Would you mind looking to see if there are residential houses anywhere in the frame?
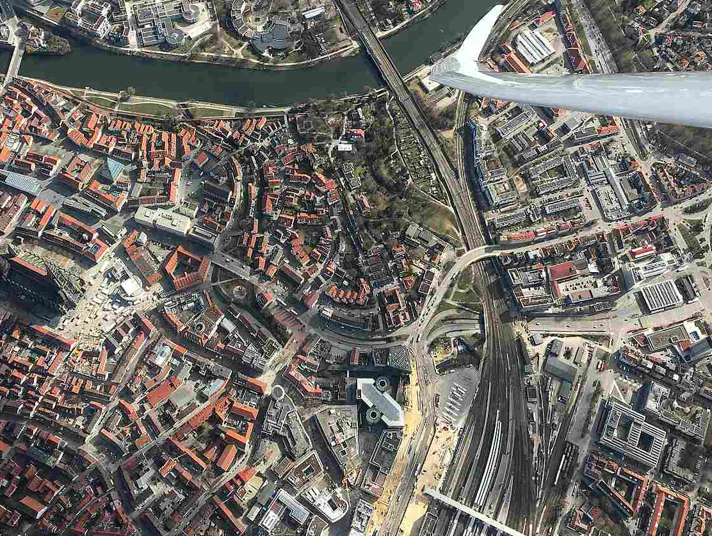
Yes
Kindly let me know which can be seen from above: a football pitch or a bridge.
bridge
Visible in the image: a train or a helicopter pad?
train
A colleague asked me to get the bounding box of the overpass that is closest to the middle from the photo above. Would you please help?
[445,244,526,279]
